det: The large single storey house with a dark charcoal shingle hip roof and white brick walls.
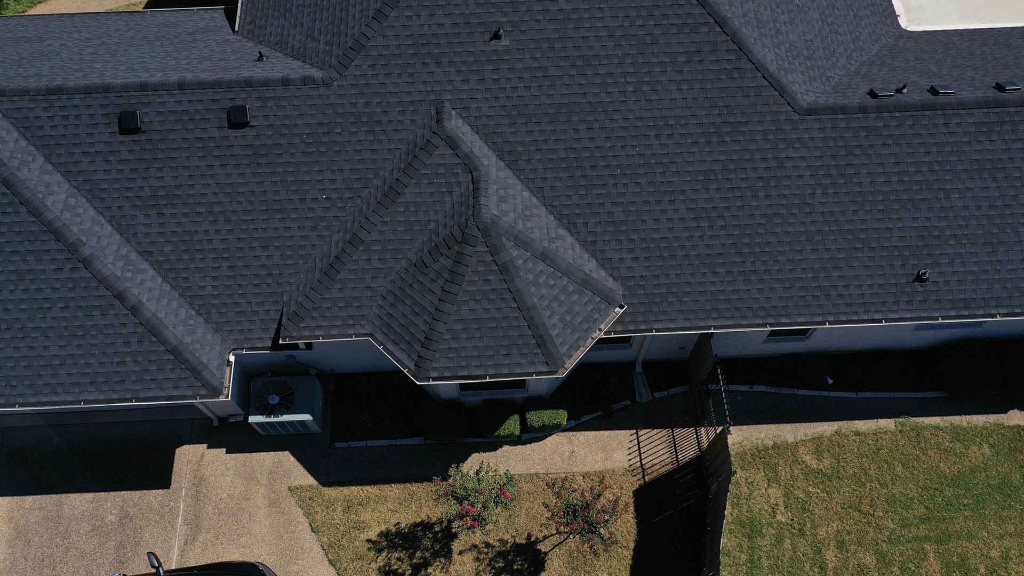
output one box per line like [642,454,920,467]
[0,0,1024,430]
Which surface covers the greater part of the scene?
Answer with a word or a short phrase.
buildings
